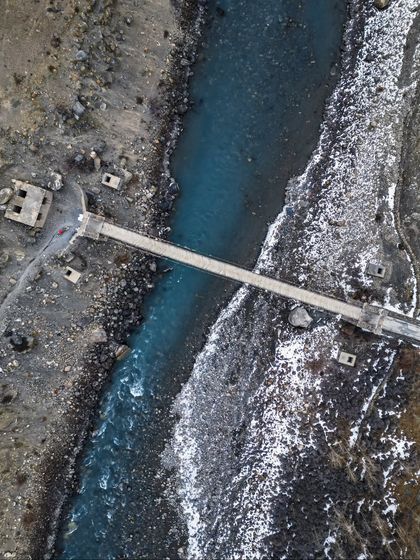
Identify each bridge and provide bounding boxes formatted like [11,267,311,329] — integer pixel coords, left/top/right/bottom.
[75,208,389,333]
